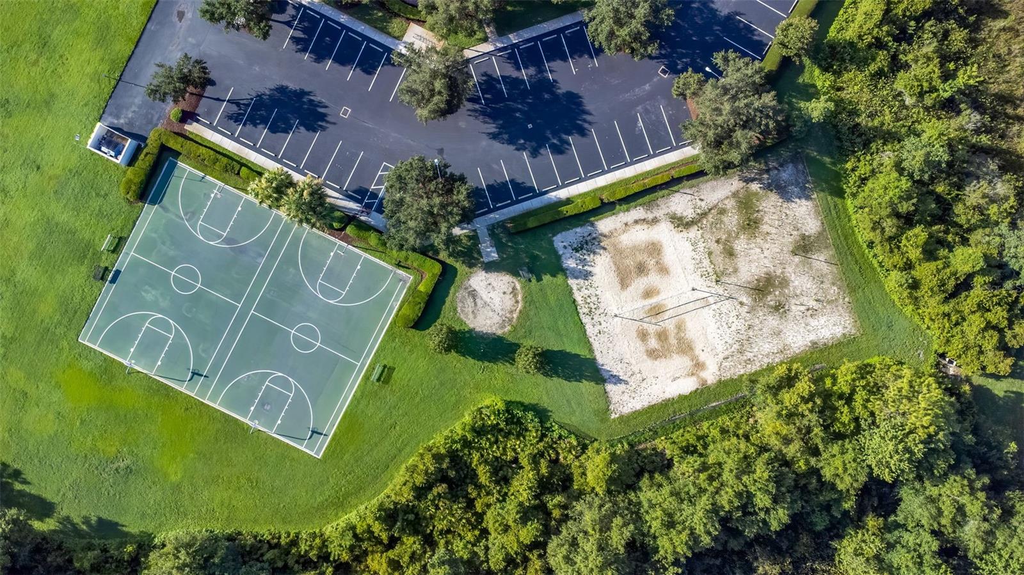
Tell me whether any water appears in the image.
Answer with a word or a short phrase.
No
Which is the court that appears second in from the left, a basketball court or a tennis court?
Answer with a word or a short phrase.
basketball court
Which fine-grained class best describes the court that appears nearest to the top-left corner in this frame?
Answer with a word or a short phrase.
basketball court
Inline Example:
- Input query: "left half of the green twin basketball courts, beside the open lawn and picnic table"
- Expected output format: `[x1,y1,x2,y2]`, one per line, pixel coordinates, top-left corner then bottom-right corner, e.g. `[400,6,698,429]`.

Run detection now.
[78,156,291,400]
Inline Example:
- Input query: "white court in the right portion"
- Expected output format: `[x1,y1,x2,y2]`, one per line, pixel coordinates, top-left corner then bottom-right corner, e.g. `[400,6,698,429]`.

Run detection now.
[553,152,859,417]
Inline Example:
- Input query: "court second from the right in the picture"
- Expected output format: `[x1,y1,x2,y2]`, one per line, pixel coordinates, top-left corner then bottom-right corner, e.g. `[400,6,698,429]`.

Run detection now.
[198,218,413,459]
